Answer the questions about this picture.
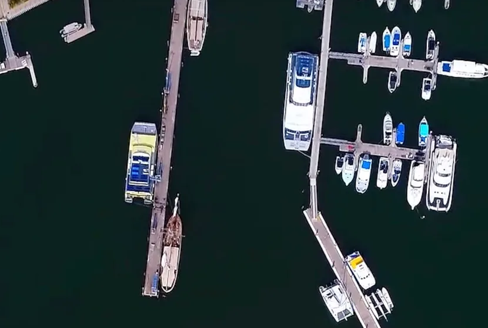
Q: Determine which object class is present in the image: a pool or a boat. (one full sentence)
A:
I can see a boat in this picture.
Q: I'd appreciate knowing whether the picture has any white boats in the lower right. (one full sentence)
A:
Yes, the scene does show a white boat in the lower right.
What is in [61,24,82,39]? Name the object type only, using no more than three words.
boat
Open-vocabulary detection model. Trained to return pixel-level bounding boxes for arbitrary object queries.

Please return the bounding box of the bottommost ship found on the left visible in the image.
[160,197,181,293]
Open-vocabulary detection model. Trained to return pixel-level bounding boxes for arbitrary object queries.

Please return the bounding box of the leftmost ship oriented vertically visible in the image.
[126,122,158,203]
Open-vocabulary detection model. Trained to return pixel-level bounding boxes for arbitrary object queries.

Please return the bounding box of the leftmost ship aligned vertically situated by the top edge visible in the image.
[186,0,207,52]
